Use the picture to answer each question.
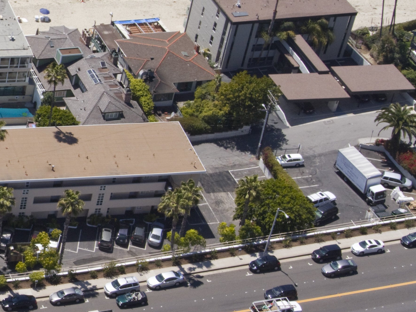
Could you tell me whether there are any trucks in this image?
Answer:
Yes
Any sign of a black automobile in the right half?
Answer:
Yes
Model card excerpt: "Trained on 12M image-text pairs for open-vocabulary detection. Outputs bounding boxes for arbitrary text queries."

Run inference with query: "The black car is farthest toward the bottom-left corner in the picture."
[0,294,38,311]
